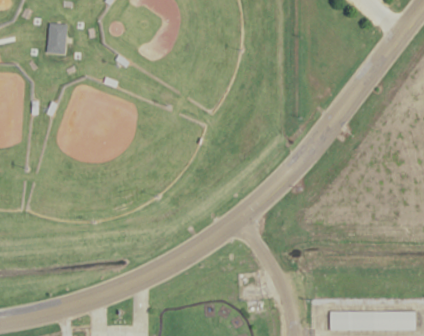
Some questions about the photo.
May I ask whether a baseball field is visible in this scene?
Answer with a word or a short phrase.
Yes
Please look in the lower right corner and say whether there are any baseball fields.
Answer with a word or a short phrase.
No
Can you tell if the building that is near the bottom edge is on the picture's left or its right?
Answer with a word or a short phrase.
right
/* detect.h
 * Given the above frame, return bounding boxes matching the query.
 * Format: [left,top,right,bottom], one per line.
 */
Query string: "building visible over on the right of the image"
[330,312,416,332]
